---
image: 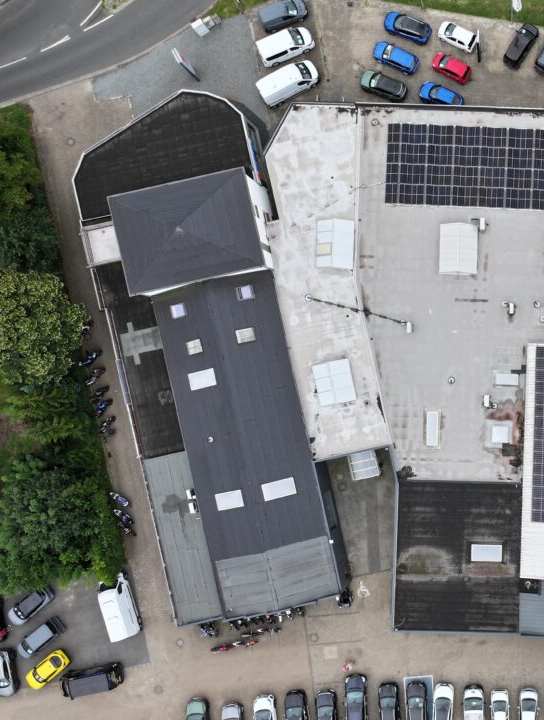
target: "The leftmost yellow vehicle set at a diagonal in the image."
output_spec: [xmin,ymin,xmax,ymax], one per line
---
[28,648,73,688]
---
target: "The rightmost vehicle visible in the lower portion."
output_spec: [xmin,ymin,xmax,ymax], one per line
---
[517,686,540,720]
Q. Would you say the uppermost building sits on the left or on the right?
left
